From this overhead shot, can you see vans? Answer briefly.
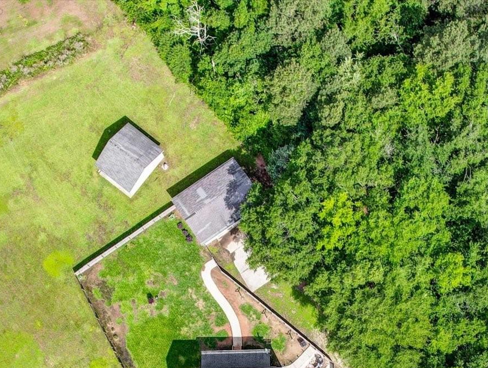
No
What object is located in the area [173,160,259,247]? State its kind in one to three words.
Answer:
shed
